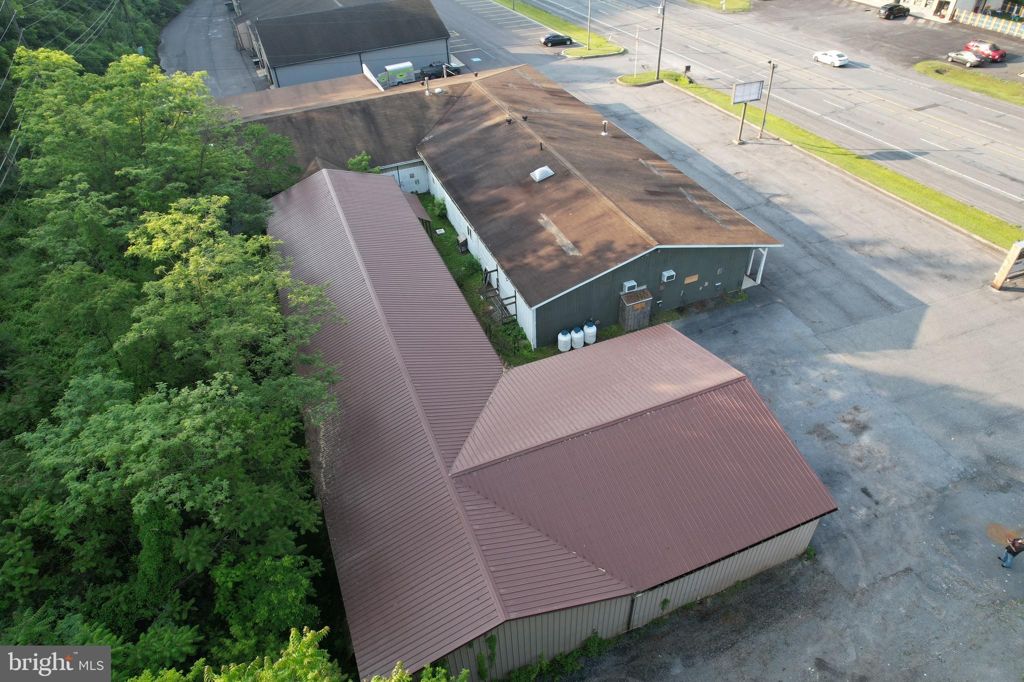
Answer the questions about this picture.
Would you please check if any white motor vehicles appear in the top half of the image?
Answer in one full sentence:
Yes, a white motor vehicle appears in the top half of the image.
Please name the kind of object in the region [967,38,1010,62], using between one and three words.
car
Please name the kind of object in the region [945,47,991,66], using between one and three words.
car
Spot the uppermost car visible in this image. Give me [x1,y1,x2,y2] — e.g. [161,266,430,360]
[880,2,911,18]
